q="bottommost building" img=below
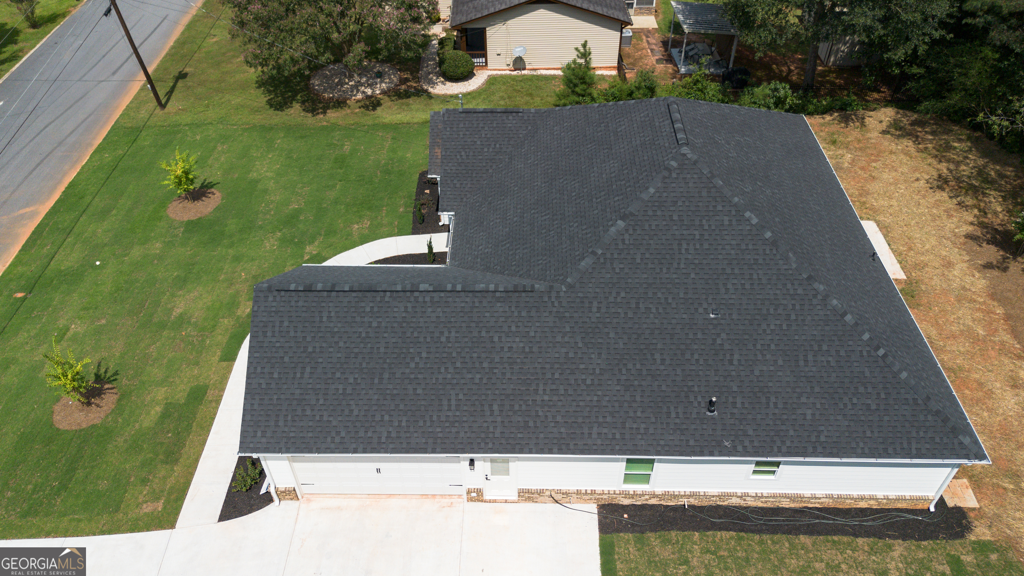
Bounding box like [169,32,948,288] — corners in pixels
[237,97,990,516]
